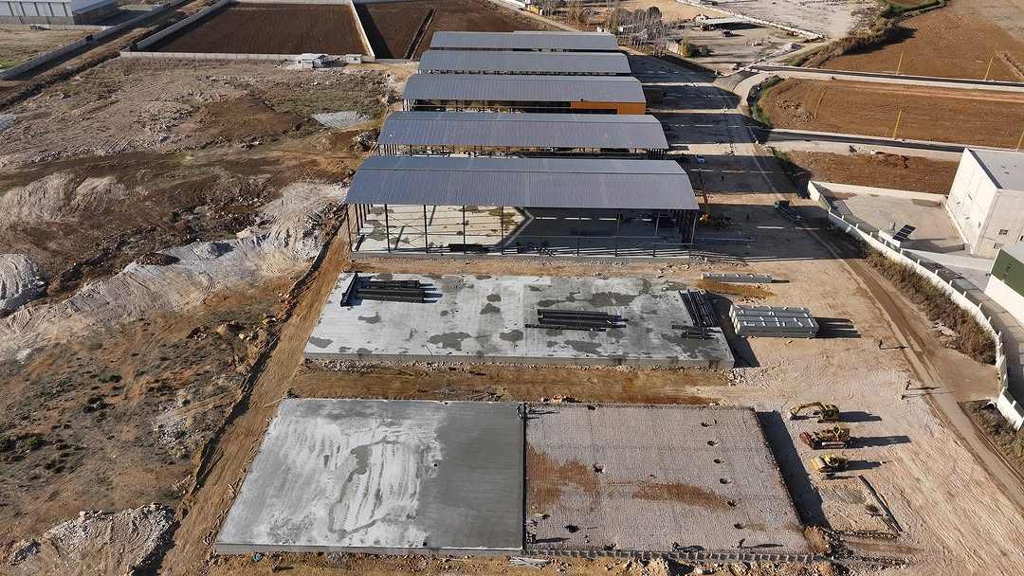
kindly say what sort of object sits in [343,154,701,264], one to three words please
hangar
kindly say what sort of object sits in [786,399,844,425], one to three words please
work vehicle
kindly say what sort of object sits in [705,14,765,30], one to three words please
barn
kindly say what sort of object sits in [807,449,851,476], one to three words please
work vehicle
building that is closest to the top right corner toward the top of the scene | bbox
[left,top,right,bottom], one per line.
[948,144,1024,256]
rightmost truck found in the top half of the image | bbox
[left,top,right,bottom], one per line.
[775,197,805,221]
